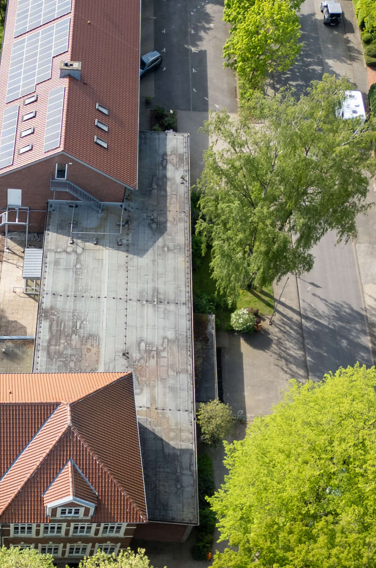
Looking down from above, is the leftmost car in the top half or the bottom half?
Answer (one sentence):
Seen from above, the leftmost car lies in the top half of the view.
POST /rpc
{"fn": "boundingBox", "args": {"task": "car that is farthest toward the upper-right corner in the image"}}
[321,0,345,22]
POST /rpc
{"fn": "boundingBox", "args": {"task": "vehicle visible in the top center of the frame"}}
[139,51,169,85]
